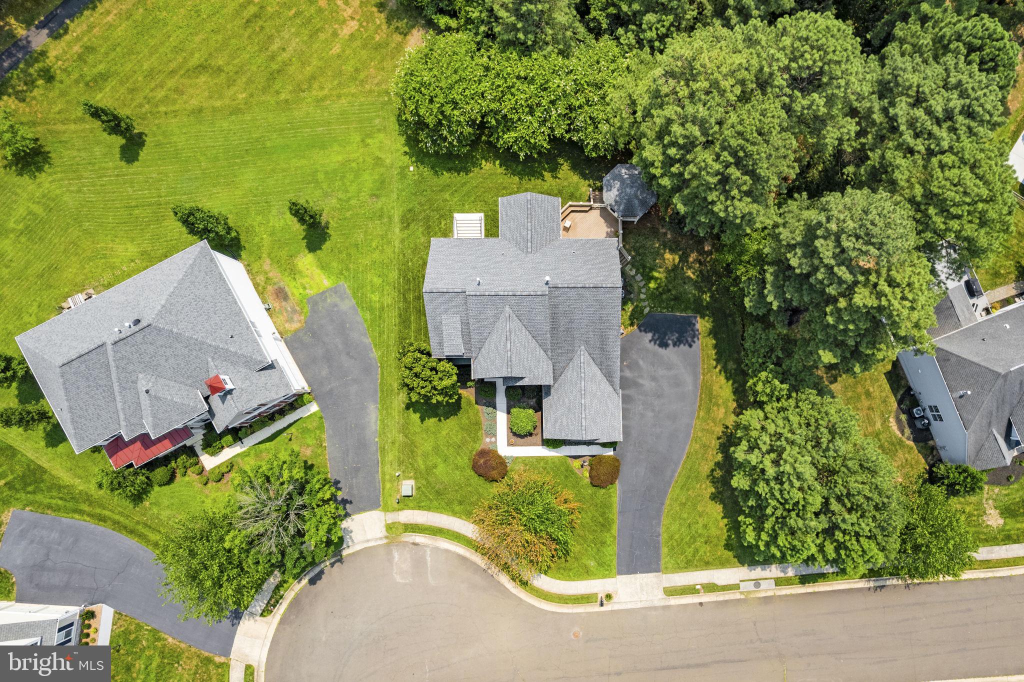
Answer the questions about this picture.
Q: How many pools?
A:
zero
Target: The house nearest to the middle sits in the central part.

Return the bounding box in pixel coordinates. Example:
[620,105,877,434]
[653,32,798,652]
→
[423,192,623,443]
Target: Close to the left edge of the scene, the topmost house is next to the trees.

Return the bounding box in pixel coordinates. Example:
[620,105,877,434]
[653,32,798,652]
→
[15,239,313,472]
